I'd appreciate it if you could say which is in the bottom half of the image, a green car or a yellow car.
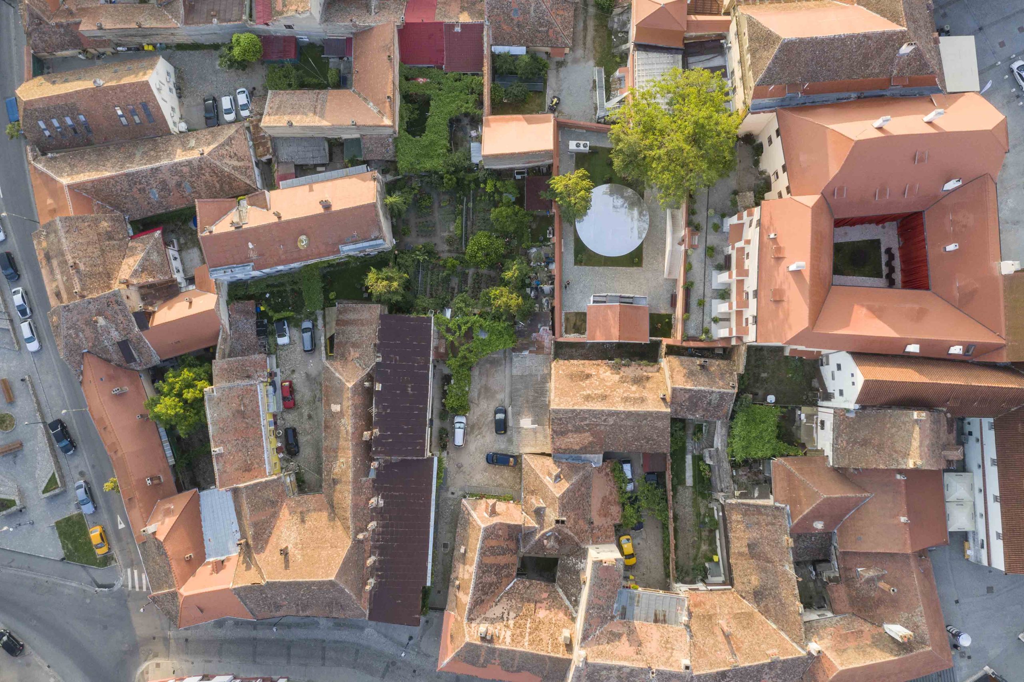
yellow car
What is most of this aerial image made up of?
buildings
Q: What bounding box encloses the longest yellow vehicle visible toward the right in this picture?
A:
[620,535,637,568]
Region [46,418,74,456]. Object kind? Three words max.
truck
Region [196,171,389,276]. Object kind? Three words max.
house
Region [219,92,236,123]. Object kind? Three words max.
car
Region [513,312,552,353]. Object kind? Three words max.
shed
